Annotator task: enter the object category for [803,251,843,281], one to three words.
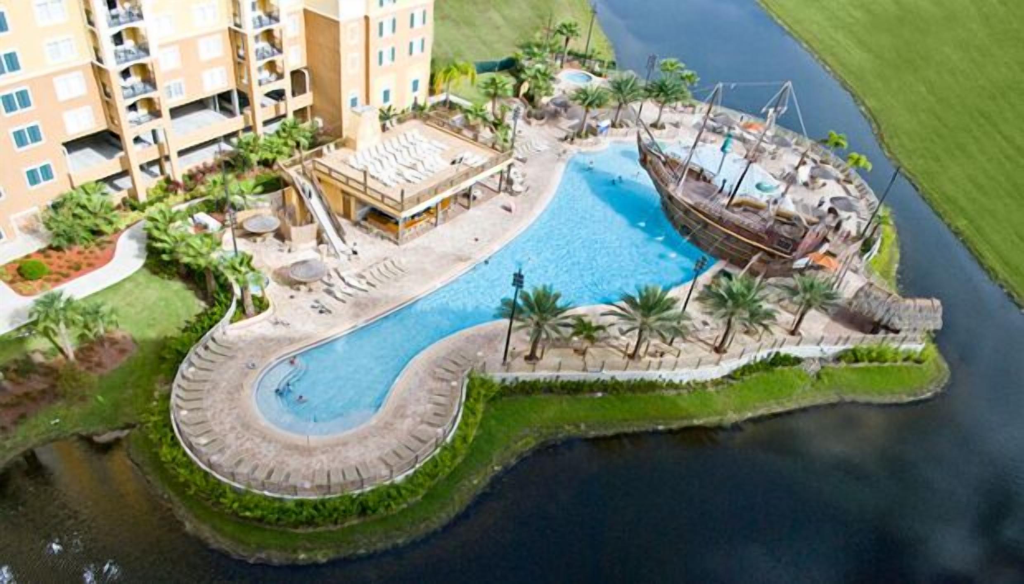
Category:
umbrella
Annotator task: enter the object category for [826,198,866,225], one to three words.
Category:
umbrella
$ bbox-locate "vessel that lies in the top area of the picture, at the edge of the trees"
[636,86,835,280]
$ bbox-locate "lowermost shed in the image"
[839,279,946,346]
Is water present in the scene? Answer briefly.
Yes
